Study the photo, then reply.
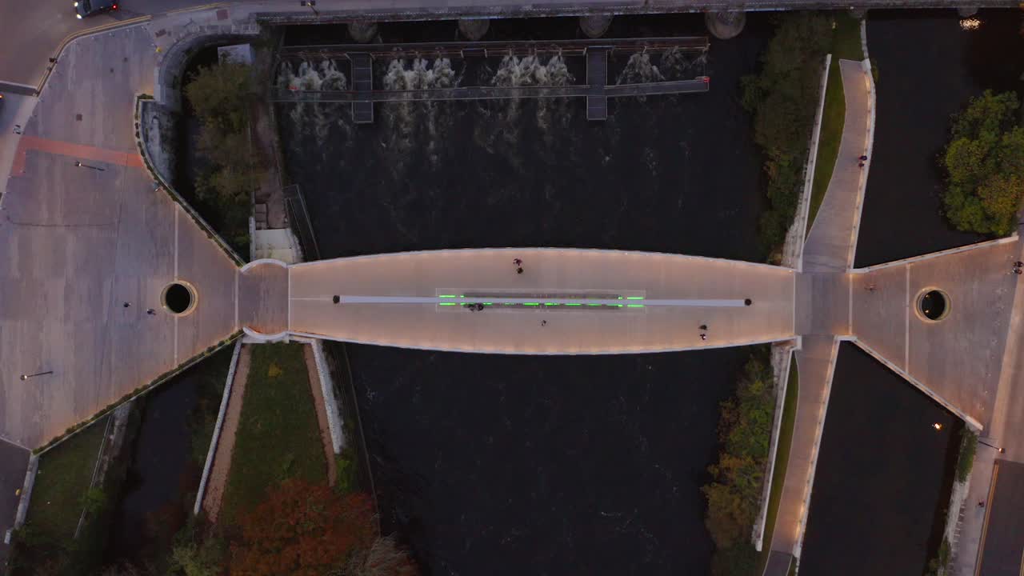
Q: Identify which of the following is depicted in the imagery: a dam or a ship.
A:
dam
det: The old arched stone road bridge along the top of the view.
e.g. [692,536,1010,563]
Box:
[225,0,1024,56]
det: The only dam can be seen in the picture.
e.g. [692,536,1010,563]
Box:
[267,36,712,126]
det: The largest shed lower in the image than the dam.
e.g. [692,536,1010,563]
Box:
[257,228,293,262]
